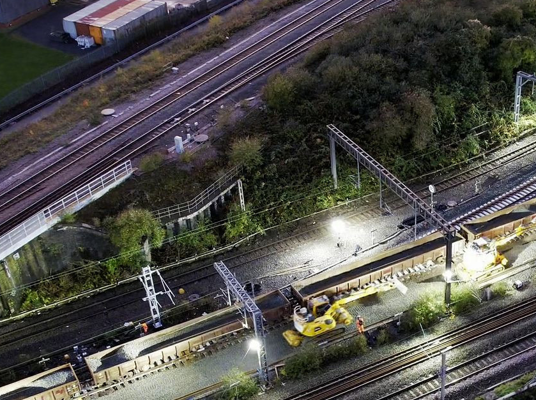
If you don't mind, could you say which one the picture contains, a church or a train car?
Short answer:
train car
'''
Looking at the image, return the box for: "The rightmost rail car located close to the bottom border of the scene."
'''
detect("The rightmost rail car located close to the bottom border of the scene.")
[82,288,291,388]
